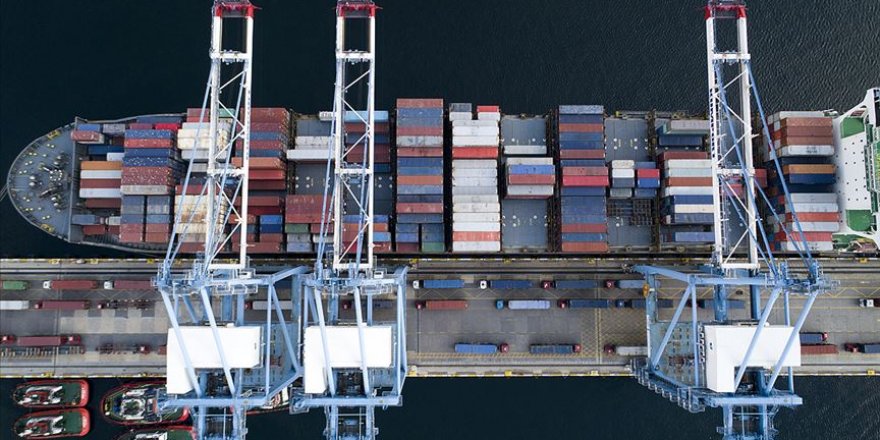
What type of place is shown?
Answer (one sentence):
This image shows a port.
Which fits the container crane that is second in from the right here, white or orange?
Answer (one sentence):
The color of the container crane that is second in from the right is white.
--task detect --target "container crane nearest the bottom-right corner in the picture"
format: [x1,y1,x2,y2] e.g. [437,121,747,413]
[624,0,840,440]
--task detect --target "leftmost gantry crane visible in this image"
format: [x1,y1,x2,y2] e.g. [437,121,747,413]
[144,0,315,440]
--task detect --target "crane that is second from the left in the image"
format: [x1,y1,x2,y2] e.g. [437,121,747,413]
[284,0,423,440]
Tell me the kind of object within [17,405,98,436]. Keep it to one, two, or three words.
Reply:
boat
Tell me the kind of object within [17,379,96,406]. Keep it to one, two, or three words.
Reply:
boat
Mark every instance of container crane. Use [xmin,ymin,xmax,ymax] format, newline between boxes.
[284,0,423,440]
[624,0,840,440]
[144,0,315,440]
